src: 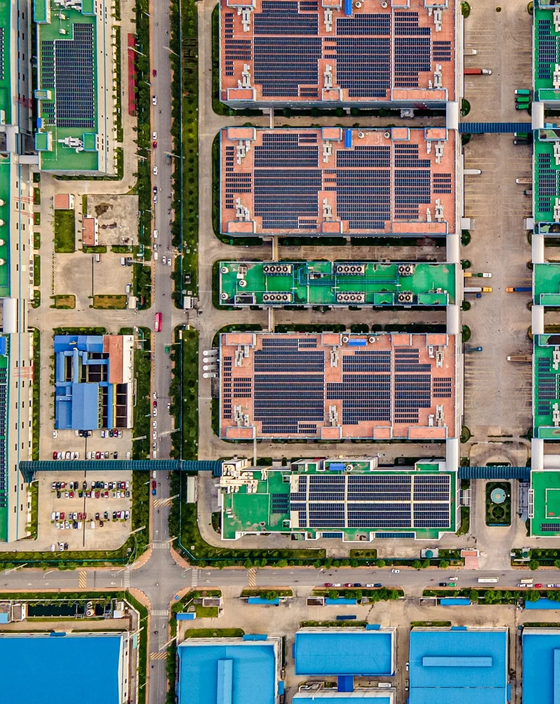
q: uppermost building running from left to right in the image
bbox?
[216,0,475,110]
